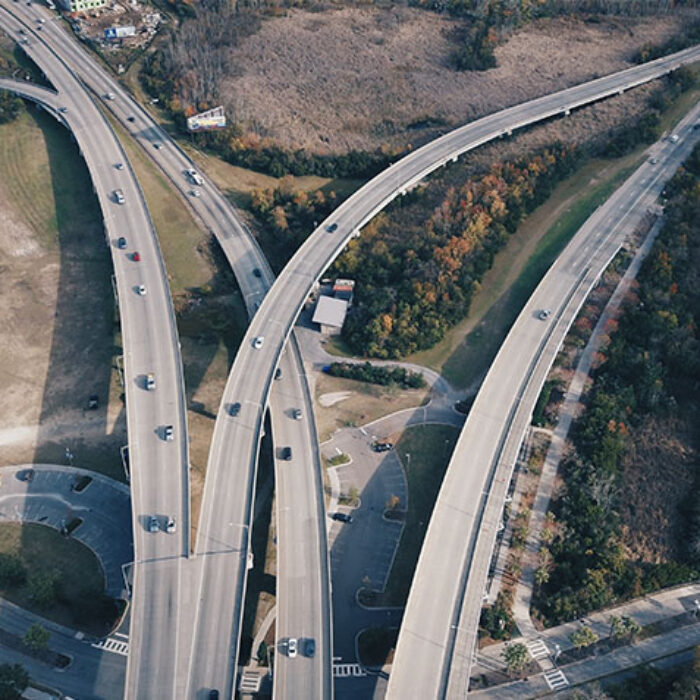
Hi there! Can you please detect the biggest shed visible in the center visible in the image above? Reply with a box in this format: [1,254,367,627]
[312,295,348,338]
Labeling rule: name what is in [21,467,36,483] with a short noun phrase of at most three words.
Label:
car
